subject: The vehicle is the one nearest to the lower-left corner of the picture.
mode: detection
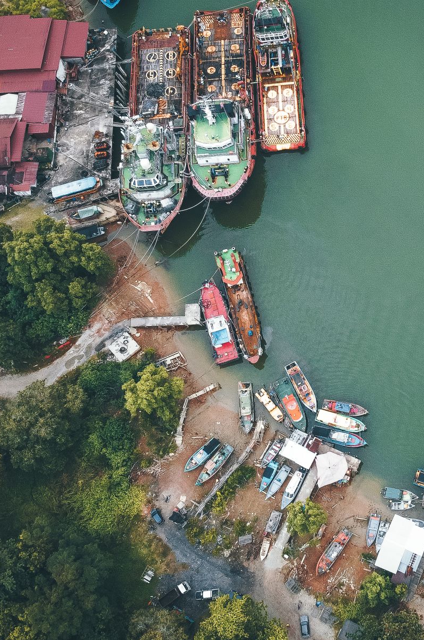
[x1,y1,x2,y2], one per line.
[157,581,191,611]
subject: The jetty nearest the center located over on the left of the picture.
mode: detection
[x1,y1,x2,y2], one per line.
[130,304,201,327]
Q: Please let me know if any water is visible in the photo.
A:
Yes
